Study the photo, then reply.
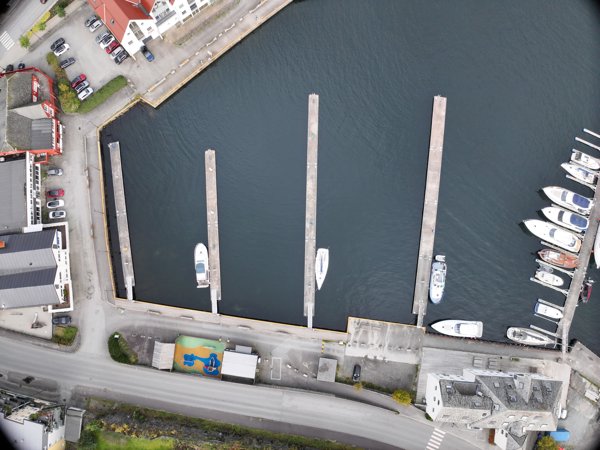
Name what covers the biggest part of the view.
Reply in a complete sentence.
The largest share of the image is taken up by water.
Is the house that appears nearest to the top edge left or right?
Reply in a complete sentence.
The house that appears nearest to the top edge is on the left side of the image.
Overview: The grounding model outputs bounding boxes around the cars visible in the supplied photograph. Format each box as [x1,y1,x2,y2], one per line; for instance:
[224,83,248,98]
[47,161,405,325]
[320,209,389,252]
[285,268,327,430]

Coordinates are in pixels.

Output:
[4,64,15,71]
[352,363,362,381]
[53,43,70,57]
[109,46,125,59]
[59,56,76,69]
[74,80,90,94]
[104,40,120,54]
[48,210,67,219]
[87,19,104,33]
[16,63,26,70]
[142,49,155,61]
[46,189,65,197]
[98,35,116,49]
[94,30,111,44]
[114,50,130,64]
[53,316,73,325]
[77,87,94,101]
[49,37,66,51]
[46,200,65,208]
[70,73,87,87]
[83,14,99,28]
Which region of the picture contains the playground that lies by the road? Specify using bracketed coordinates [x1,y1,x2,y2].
[173,336,226,380]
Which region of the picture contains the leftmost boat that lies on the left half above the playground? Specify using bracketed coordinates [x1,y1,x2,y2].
[195,243,212,290]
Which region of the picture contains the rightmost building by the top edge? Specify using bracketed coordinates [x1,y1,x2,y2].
[84,0,214,59]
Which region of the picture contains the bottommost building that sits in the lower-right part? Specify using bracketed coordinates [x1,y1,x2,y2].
[424,369,562,450]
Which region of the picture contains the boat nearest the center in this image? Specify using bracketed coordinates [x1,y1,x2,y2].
[312,248,329,289]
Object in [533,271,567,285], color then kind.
white boat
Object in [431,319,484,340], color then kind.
white boat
